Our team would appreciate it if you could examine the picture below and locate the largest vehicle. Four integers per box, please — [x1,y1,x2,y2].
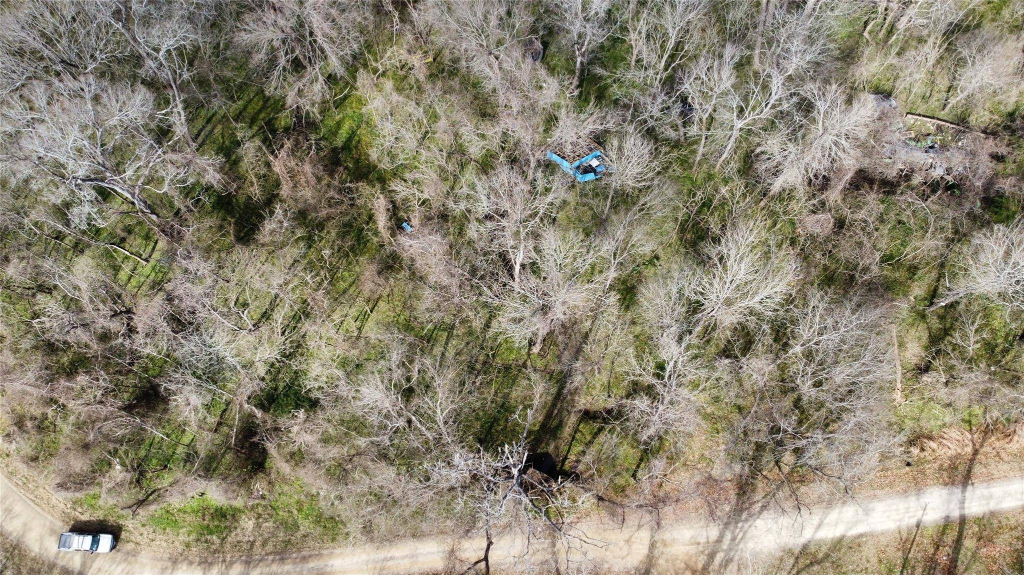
[57,532,117,557]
